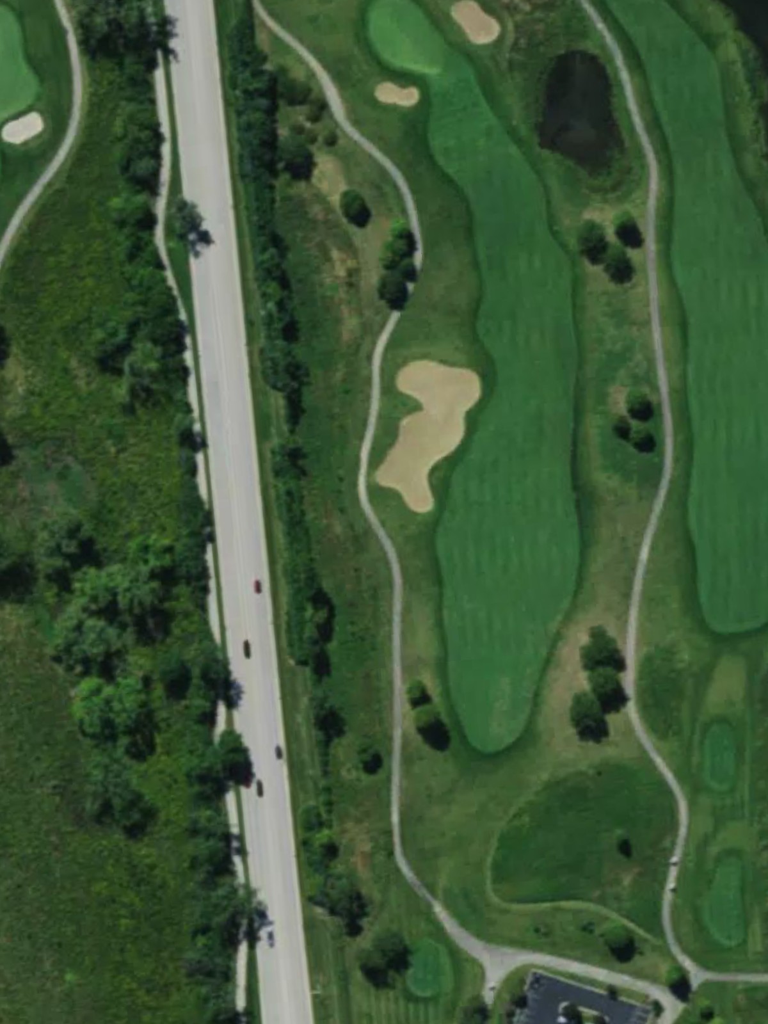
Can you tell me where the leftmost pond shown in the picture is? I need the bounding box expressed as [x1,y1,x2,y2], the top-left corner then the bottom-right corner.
[540,50,624,177]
